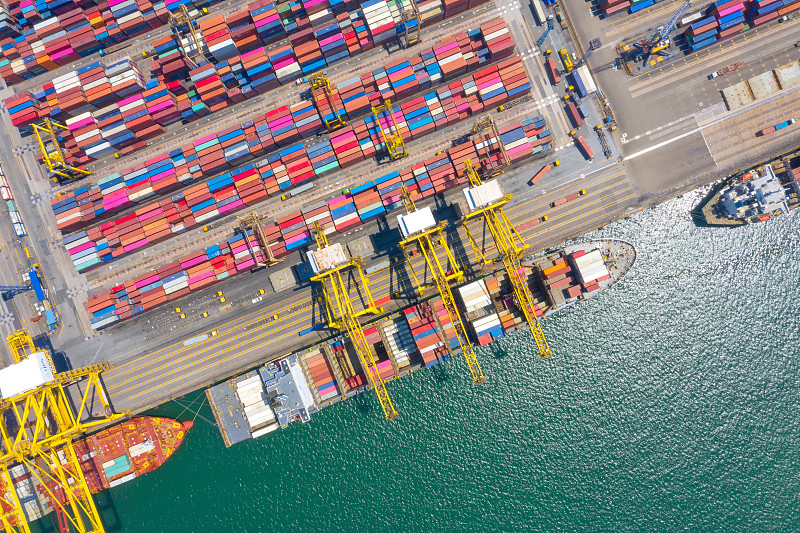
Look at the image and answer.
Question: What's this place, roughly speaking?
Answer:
port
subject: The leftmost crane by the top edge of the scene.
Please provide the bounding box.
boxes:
[157,9,204,73]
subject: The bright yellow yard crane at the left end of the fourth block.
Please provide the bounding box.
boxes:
[28,115,95,181]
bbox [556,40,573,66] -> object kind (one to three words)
work vehicle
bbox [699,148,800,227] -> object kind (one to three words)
ship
